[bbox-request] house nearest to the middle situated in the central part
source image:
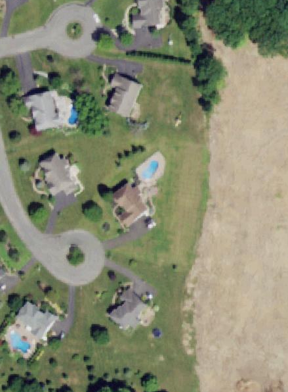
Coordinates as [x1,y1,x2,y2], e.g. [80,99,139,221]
[110,182,152,230]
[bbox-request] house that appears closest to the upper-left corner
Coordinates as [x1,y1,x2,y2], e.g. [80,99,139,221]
[22,91,63,134]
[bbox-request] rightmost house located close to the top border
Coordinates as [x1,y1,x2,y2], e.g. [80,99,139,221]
[131,0,166,30]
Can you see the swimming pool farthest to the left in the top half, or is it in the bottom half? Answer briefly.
bottom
